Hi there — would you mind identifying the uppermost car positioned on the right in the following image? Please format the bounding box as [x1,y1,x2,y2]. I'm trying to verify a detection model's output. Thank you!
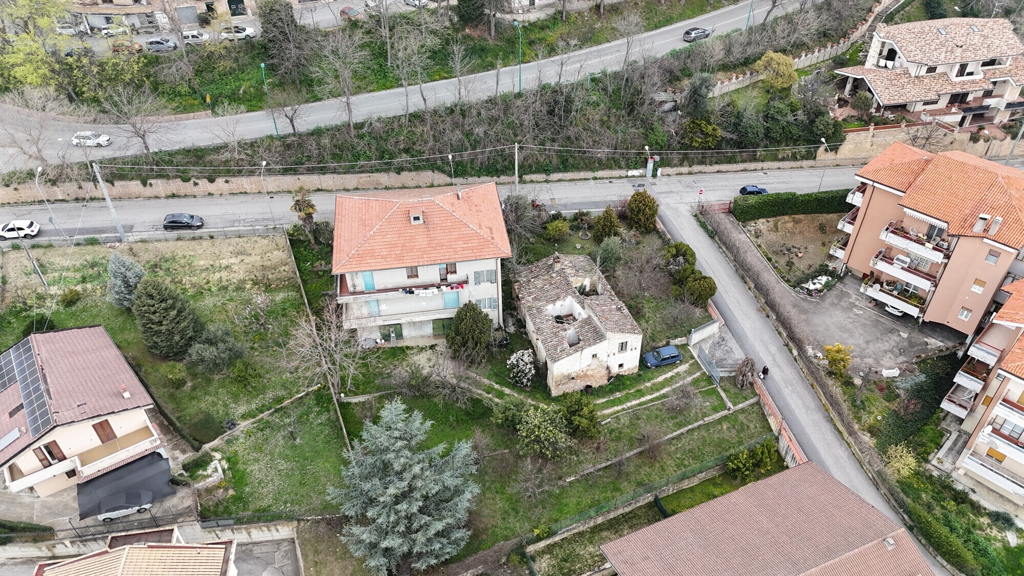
[681,24,713,40]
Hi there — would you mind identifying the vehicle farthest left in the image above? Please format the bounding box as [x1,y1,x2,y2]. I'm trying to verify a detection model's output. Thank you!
[0,216,41,239]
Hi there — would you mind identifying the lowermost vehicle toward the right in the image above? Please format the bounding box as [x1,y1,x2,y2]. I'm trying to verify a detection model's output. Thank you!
[642,340,685,367]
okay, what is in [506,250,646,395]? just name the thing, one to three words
house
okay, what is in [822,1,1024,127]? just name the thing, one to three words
house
